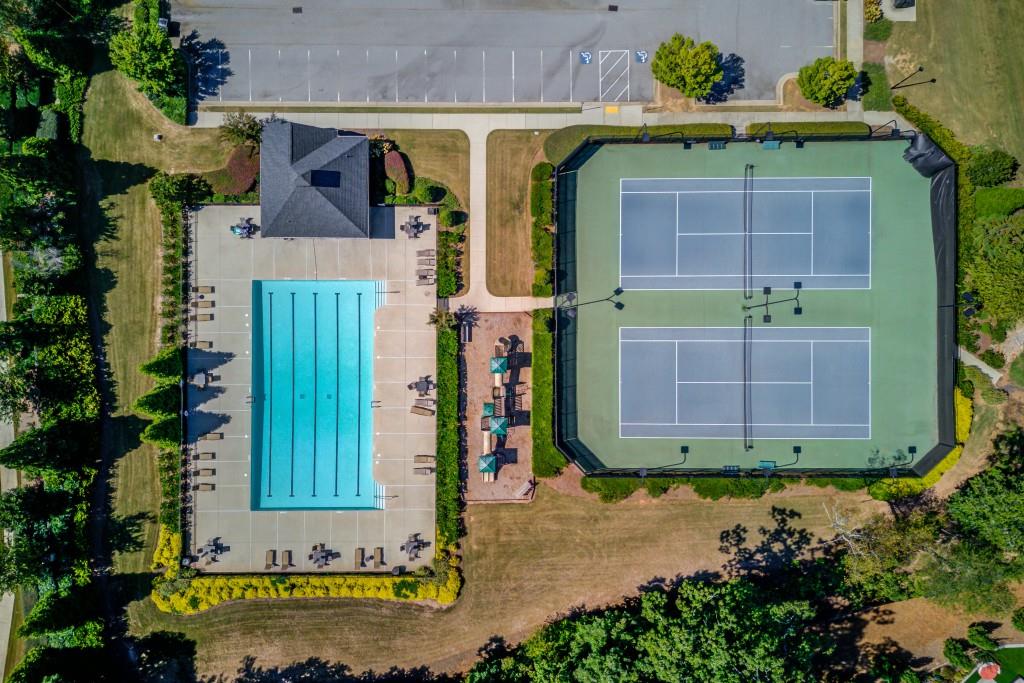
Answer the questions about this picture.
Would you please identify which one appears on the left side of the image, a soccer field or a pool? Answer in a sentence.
You can see a pool on the left side of the image.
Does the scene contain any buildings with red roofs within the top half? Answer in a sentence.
No, there is no building with a red roof within the top half.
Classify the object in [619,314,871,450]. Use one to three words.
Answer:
tennis court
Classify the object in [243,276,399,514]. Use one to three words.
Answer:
swimming pool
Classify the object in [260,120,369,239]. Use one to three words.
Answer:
building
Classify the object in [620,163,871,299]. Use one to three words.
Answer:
tennis court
